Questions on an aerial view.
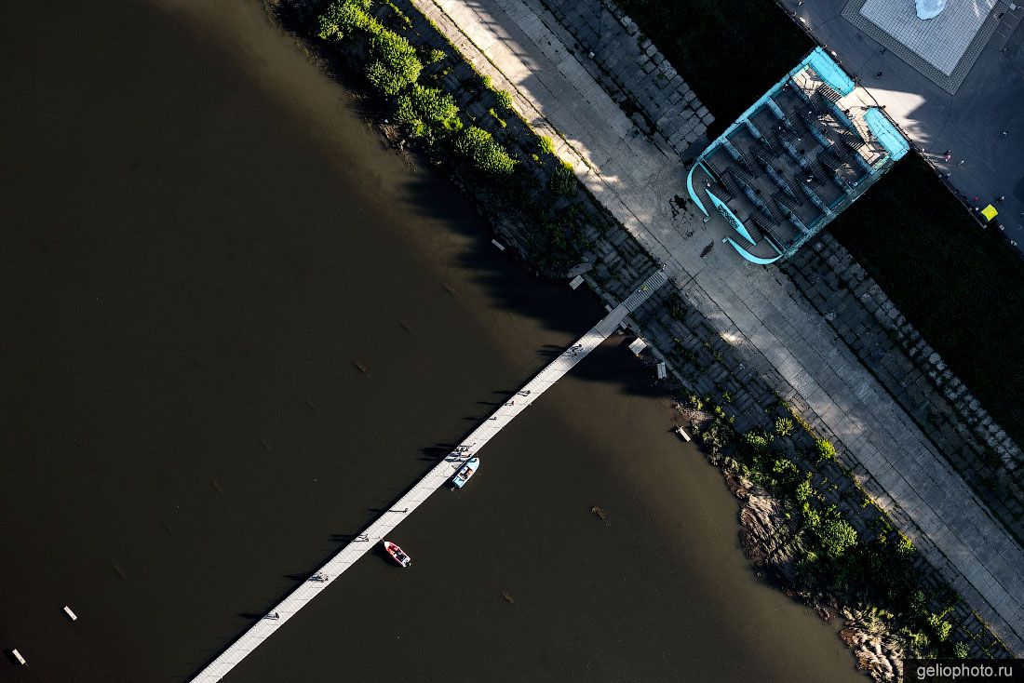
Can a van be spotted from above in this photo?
No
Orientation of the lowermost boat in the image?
diagonally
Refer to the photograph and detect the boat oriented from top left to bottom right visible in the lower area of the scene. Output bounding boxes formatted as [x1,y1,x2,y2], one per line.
[384,542,411,568]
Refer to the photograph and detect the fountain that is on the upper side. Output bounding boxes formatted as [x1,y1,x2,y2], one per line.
[833,0,1024,103]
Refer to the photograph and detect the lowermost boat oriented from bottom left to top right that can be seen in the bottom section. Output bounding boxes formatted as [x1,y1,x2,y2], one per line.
[451,458,479,490]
